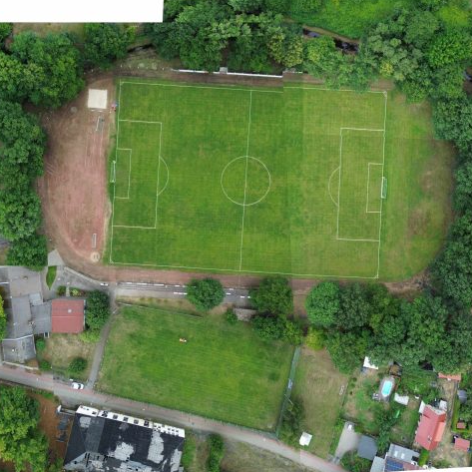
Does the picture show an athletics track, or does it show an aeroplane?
athletics track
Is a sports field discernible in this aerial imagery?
Yes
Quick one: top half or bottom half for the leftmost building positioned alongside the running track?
bottom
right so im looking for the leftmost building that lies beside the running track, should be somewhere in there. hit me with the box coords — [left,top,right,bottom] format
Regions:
[0,266,85,365]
